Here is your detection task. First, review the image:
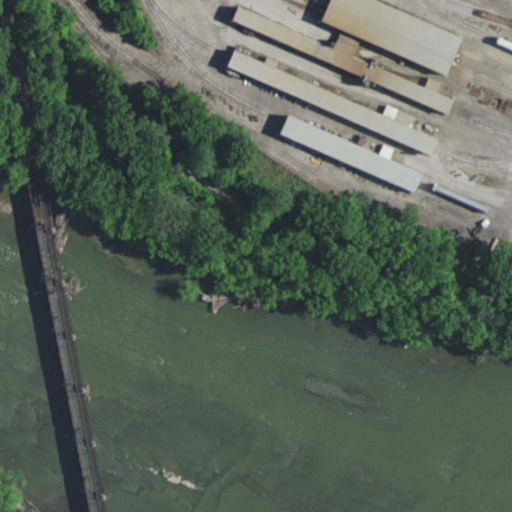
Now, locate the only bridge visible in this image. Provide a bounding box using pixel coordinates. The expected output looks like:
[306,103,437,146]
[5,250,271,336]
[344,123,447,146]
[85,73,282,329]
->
[30,181,107,512]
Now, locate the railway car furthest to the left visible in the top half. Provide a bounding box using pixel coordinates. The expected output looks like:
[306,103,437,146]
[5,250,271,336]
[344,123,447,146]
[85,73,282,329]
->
[432,184,488,214]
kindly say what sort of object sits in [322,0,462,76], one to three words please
building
